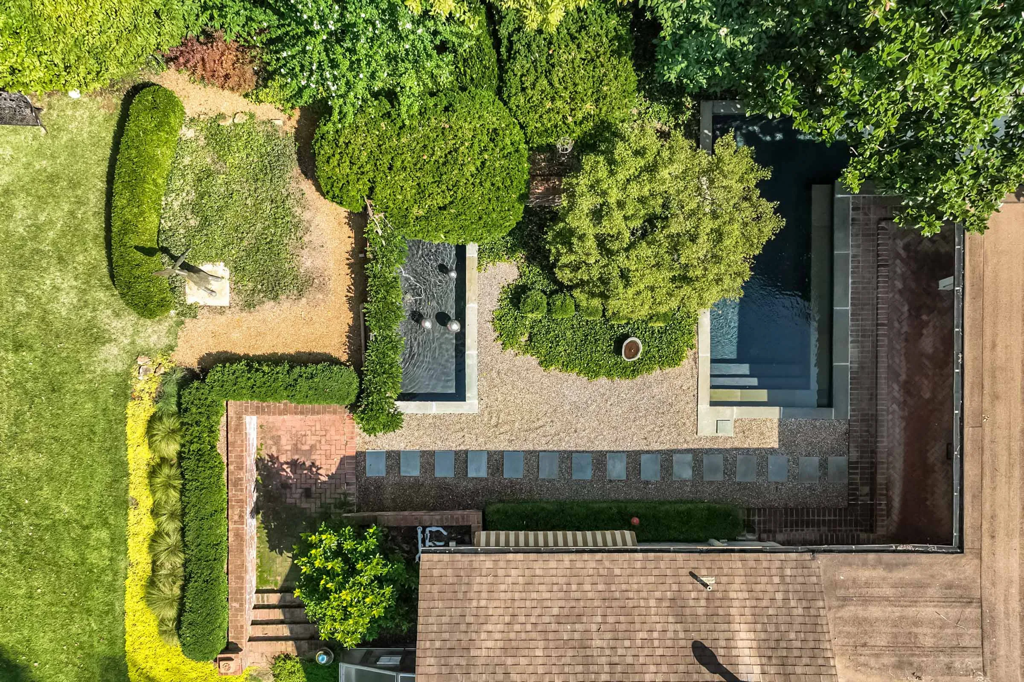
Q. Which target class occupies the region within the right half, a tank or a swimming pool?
swimming pool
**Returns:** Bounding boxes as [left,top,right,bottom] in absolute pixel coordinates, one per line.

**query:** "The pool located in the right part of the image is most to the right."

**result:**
[698,101,899,435]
